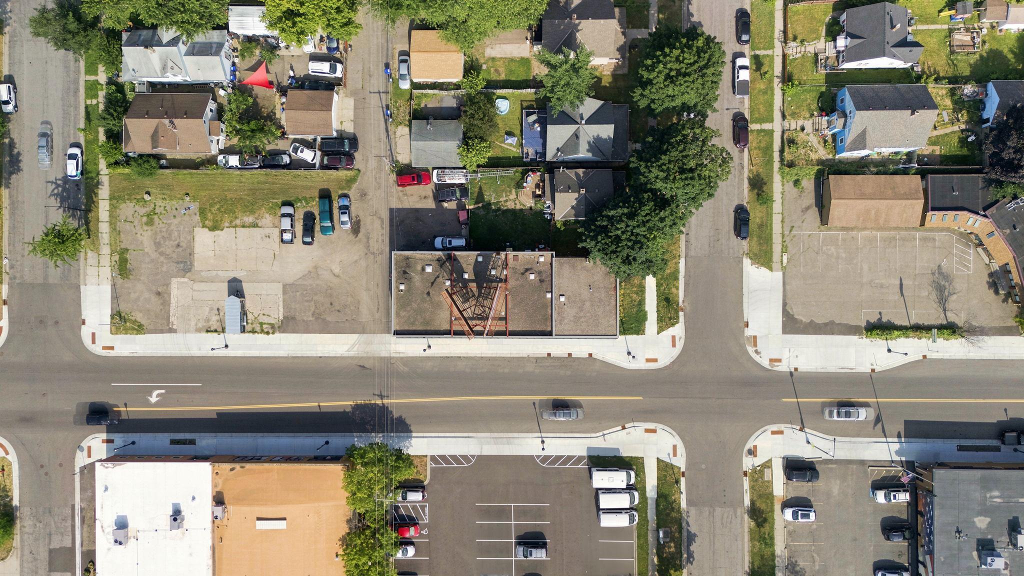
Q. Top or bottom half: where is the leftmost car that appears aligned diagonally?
top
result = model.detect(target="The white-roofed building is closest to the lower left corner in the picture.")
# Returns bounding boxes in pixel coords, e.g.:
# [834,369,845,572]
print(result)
[95,455,225,576]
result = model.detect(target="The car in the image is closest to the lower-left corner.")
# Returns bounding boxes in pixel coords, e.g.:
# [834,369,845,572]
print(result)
[90,411,123,426]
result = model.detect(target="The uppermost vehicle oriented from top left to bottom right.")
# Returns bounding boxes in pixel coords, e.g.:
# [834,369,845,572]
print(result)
[289,141,316,164]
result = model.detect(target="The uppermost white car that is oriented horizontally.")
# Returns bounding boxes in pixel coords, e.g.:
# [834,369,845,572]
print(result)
[308,60,343,77]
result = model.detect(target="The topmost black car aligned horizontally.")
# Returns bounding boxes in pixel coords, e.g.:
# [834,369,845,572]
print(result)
[302,76,338,92]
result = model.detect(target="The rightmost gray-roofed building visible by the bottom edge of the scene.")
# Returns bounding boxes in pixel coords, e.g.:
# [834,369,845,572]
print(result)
[912,460,1024,576]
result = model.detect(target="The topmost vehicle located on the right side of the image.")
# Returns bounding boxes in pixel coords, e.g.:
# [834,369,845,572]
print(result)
[735,11,752,46]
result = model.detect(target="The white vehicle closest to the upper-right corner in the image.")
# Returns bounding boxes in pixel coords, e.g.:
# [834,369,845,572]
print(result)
[733,56,751,98]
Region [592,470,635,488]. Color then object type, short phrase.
white vehicle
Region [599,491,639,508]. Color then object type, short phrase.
white vehicle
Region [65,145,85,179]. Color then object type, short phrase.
white car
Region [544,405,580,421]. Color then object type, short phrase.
gray car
